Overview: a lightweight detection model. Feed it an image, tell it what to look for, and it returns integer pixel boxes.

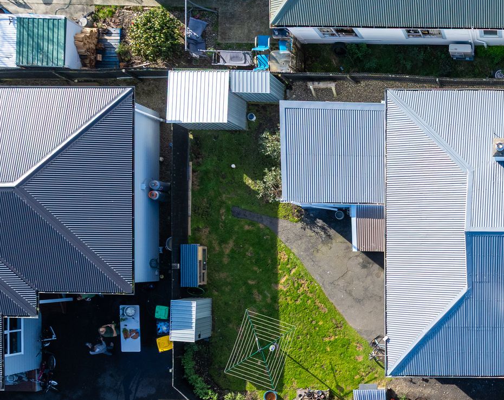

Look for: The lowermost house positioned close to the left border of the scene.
[0,84,162,391]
